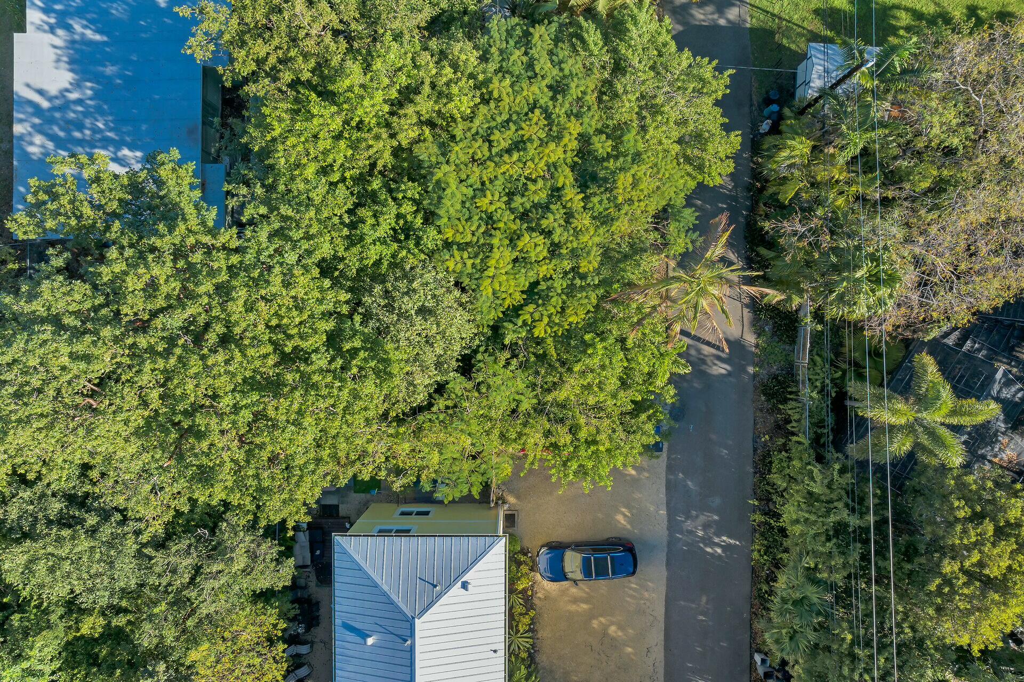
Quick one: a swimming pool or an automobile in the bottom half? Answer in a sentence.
What appears in the bottom half is an automobile.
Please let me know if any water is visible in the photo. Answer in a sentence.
No, there's no water in this view.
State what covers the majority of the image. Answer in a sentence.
The largest share of the image is taken up by trees.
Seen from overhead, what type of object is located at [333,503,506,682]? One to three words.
house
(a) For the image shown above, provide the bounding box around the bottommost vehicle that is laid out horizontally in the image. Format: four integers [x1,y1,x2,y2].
[534,536,638,588]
